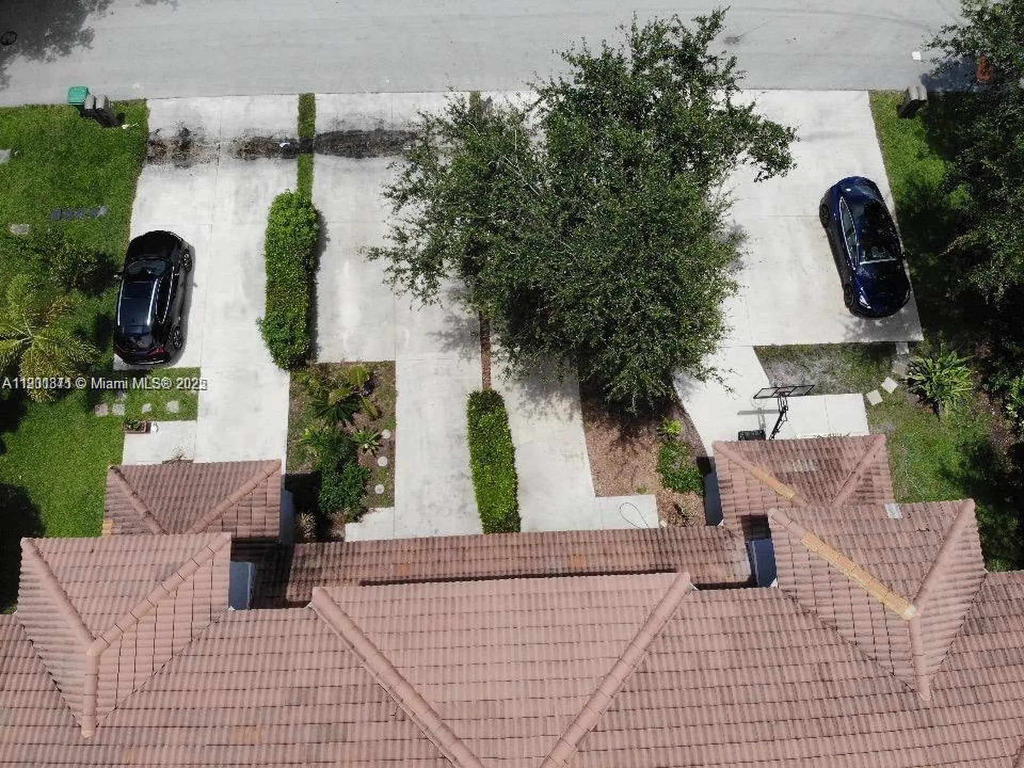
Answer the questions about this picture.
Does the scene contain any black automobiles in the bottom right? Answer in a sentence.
No, in the bottom right there is no black automobile.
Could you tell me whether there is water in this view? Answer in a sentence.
No, no water is visible.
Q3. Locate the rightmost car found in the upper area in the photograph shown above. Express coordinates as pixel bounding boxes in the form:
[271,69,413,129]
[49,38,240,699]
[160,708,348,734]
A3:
[819,173,920,322]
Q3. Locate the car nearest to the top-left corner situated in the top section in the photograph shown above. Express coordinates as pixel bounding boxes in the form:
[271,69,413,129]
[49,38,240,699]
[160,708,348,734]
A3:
[108,231,193,367]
